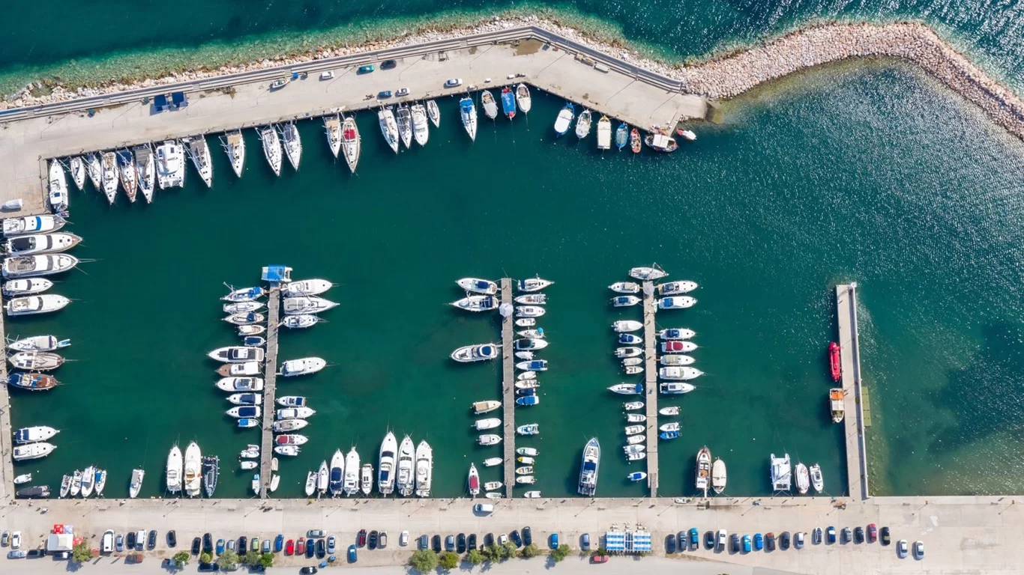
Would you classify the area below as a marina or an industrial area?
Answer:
marina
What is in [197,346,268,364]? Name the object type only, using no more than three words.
boat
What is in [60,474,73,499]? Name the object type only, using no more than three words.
boat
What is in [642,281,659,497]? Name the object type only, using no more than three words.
pier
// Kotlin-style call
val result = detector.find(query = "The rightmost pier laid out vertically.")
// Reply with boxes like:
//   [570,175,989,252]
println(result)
[835,284,869,498]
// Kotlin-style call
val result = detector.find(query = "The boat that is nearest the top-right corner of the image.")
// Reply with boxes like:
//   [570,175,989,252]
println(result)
[676,129,697,142]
